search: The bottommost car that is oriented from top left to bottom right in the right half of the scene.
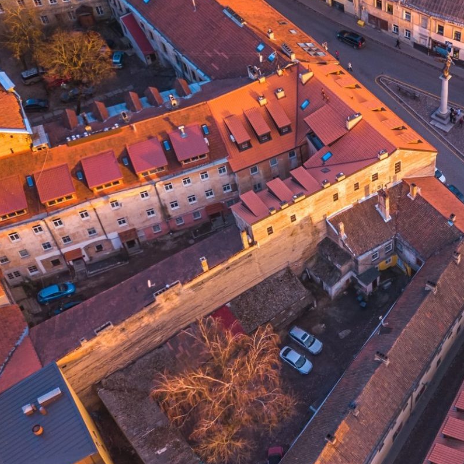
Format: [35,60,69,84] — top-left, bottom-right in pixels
[279,347,313,375]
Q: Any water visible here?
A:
No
